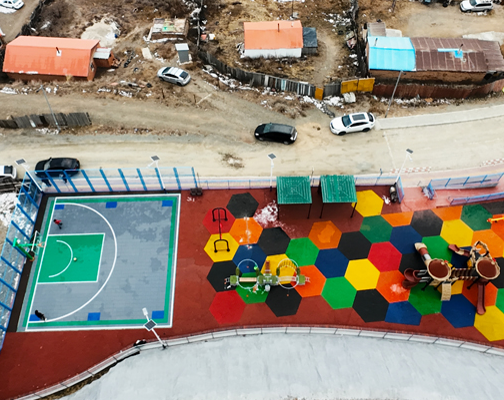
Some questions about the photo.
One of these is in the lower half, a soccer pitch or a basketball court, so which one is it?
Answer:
basketball court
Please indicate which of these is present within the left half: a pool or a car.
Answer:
car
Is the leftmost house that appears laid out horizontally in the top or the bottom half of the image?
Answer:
top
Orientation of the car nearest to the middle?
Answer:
from side to side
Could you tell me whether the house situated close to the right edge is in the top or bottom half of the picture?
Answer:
top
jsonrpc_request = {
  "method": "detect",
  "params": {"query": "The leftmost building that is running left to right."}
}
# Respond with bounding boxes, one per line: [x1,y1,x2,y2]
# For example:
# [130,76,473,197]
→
[1,36,101,83]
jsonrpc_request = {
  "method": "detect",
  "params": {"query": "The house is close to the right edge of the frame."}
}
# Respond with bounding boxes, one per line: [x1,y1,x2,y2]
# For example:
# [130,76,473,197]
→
[365,38,504,83]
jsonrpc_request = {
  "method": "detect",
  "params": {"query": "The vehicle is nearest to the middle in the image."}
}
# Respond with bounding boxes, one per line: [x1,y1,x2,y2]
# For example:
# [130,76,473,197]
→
[256,122,297,144]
